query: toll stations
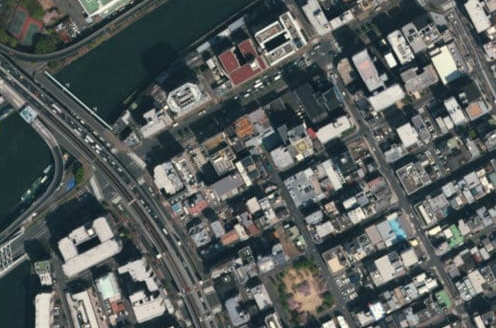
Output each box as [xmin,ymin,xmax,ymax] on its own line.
[17,105,35,123]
